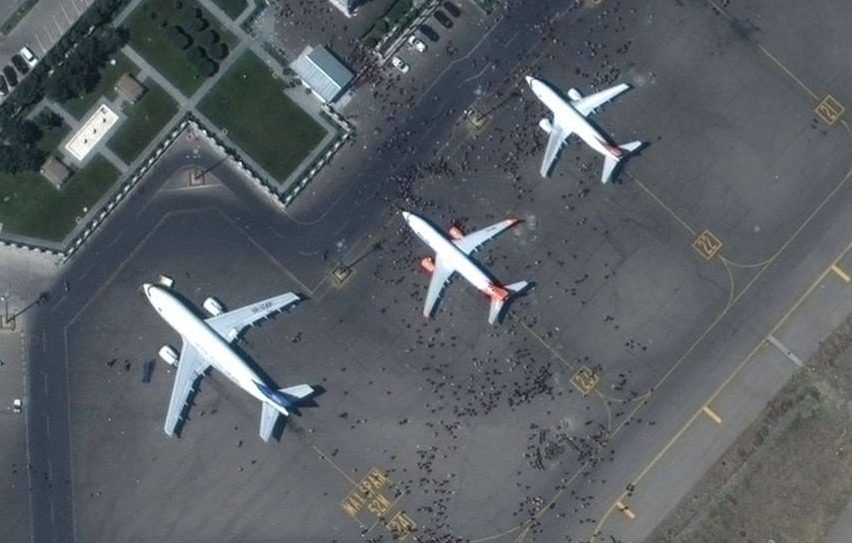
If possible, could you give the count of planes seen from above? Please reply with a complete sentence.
The count of planes comes to 3.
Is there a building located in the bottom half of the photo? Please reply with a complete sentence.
No, I see no building in the bottom half of the photo.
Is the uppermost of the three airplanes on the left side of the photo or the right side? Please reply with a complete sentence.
The uppermost of the three airplanes is on the right side of the image.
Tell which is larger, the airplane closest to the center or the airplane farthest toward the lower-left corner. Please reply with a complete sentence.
Of the two, the airplane farthest toward the lower-left corner is bigger, while the airplane closest to the center is smaller.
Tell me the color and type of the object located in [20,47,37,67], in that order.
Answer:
white car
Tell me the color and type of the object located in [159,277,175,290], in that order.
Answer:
white vehicle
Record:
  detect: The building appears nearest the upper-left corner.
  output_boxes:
[113,72,145,106]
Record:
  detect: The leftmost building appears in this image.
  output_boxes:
[41,155,71,189]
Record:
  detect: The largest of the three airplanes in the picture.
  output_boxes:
[142,285,315,440]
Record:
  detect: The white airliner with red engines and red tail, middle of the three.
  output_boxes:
[403,212,530,323]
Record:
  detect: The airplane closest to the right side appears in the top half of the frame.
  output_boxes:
[526,77,642,183]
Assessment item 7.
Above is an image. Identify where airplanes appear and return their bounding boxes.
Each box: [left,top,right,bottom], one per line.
[403,212,530,323]
[526,77,642,183]
[142,285,315,440]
